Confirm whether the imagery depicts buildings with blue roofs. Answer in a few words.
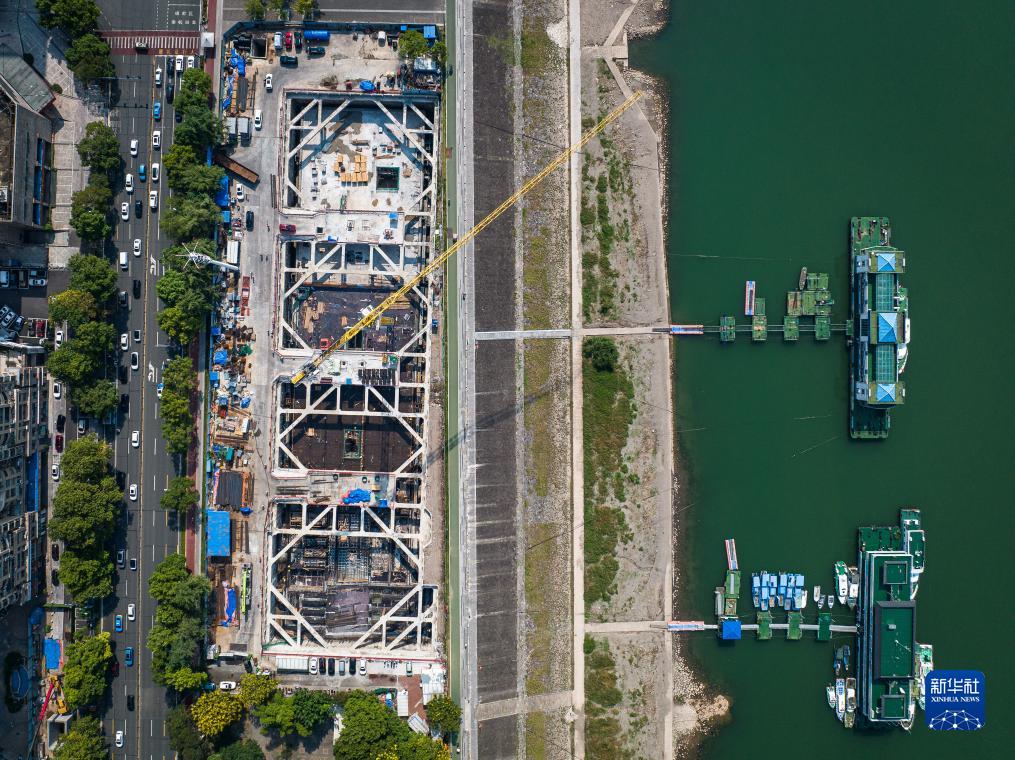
Yes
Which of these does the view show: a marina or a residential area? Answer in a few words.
marina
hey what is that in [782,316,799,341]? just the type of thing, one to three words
pier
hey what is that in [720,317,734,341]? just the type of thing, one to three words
pier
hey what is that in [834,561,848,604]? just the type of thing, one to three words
boat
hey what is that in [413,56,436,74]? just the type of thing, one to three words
shed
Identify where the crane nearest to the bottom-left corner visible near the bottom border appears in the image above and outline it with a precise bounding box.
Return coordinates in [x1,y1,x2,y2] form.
[40,675,71,760]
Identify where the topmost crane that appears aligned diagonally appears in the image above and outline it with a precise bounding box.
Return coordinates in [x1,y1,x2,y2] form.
[283,91,641,388]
